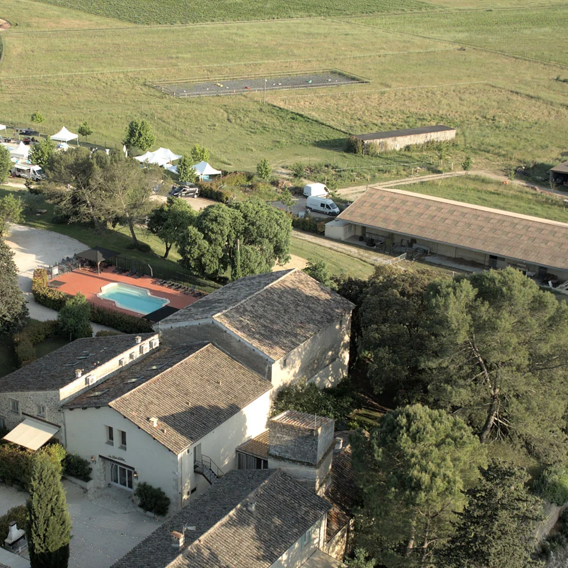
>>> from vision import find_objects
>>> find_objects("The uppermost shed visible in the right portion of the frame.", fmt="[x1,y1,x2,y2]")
[341,120,451,155]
